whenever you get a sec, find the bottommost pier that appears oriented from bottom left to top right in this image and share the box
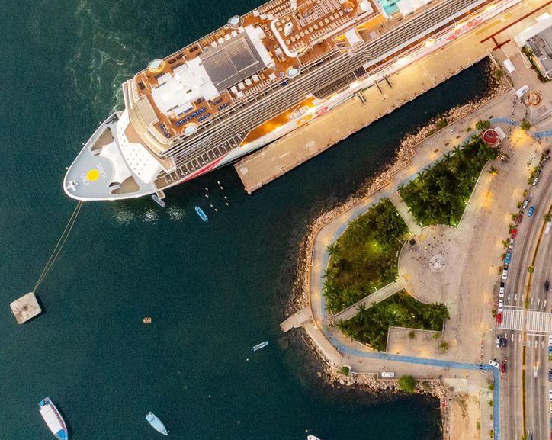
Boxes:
[280,308,312,333]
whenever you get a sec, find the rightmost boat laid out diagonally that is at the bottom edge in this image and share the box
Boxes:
[145,411,167,435]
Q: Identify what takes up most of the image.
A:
water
